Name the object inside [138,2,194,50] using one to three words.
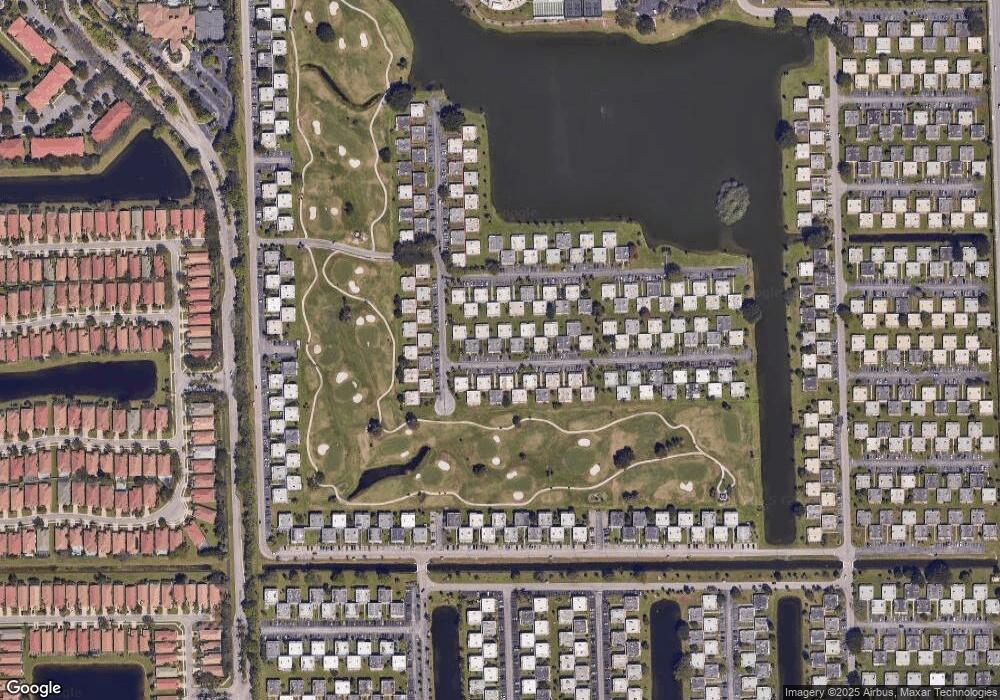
building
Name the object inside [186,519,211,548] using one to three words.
house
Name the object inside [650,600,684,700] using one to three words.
pond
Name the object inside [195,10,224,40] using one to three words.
tennis court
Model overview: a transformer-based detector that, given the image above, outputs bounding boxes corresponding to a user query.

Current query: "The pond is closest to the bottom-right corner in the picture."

[777,597,806,700]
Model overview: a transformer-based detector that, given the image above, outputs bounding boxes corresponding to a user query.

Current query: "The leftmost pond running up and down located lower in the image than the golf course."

[433,606,461,700]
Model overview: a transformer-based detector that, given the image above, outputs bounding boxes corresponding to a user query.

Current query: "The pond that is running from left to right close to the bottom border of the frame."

[31,664,146,700]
